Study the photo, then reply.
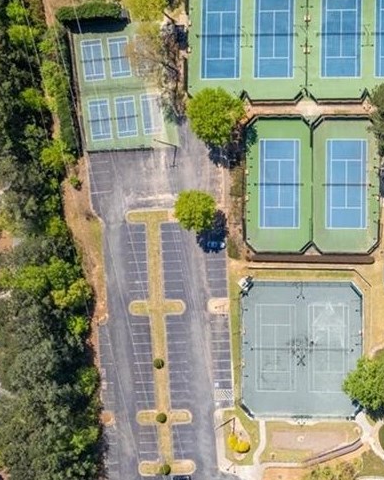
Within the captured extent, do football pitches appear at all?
No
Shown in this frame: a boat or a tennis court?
tennis court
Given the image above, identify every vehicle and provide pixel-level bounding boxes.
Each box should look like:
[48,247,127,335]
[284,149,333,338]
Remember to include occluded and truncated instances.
[208,240,226,249]
[173,474,191,480]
